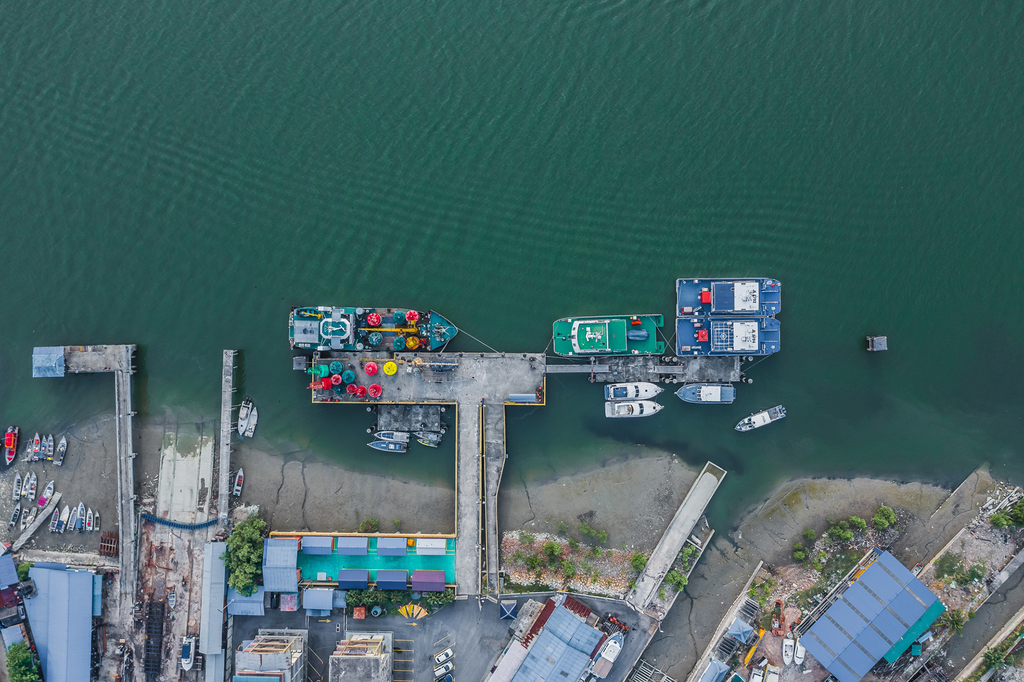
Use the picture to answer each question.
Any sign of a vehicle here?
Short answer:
Yes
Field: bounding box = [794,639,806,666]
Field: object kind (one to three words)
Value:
boat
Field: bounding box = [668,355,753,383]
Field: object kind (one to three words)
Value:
pier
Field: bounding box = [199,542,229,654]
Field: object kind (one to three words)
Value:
shed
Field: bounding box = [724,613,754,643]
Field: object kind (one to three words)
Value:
gazebo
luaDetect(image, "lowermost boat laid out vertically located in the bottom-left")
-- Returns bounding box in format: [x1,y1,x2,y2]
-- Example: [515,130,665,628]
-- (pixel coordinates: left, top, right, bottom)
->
[178,633,196,672]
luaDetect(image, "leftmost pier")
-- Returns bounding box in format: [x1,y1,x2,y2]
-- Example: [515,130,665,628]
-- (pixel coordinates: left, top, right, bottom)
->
[33,344,149,627]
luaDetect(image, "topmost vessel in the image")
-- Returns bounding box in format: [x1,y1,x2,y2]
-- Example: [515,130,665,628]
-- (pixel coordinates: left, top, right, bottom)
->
[676,278,781,317]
